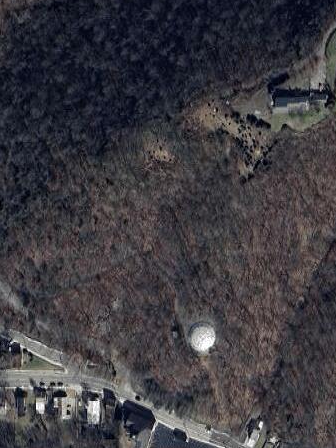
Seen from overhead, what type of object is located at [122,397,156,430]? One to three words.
building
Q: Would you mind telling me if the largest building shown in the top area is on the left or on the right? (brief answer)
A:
right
